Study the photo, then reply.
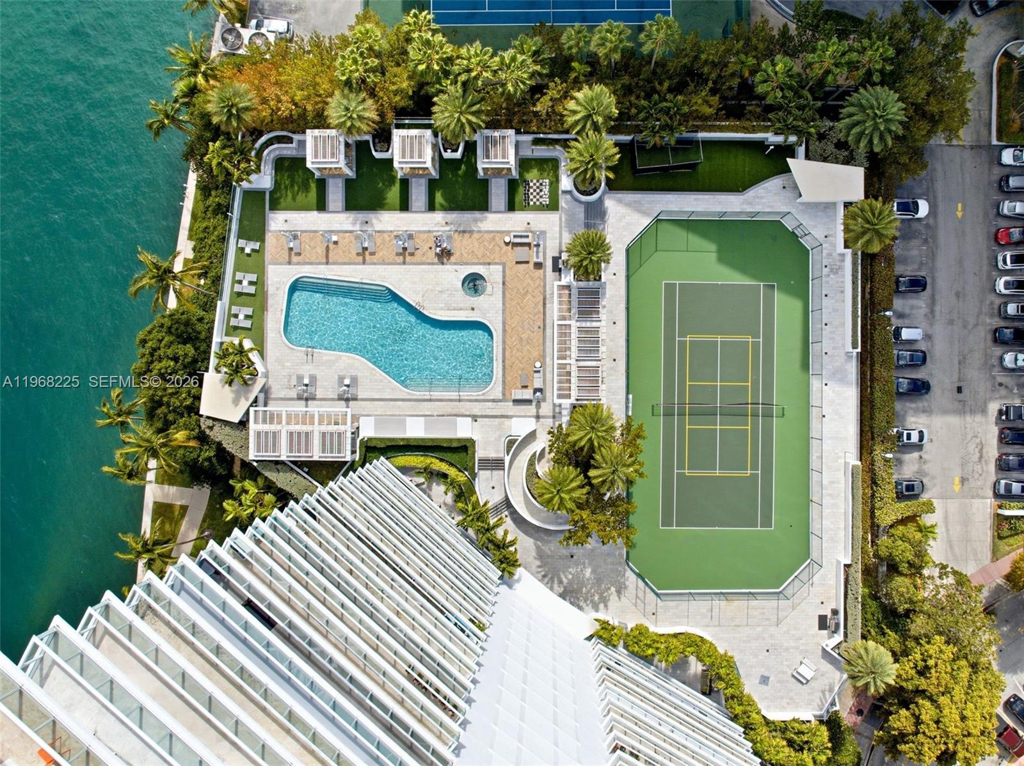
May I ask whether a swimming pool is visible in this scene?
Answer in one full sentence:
Yes, this view includes a swimming pool.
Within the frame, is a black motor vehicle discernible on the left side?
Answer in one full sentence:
No, no black motor vehicle appears on the left side.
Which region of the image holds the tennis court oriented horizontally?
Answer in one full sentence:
The tennis court oriented horizontally is located in the top region of the scene.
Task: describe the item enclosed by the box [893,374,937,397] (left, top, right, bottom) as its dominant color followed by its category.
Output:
black car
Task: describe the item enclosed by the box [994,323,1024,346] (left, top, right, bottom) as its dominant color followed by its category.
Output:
black car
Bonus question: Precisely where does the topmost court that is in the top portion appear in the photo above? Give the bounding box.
[364,0,748,60]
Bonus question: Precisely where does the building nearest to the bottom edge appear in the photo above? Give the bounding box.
[0,457,762,766]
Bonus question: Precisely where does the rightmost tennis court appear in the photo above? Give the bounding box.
[628,220,810,589]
